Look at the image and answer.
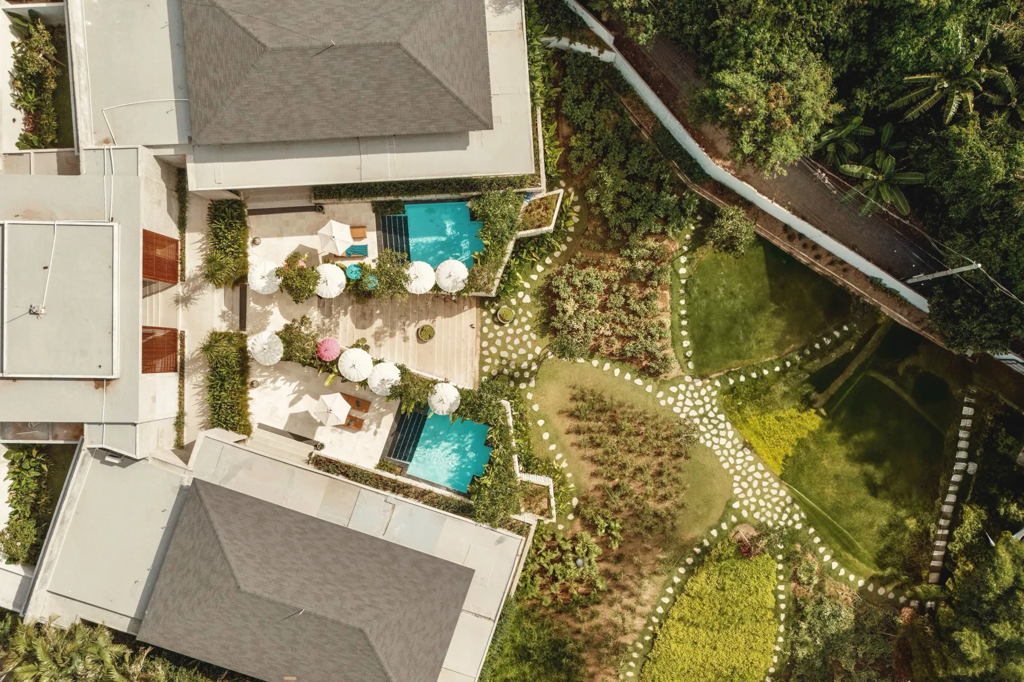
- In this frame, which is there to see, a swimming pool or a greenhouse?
swimming pool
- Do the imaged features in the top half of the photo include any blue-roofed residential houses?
No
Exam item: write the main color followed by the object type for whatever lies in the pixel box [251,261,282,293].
white umbrella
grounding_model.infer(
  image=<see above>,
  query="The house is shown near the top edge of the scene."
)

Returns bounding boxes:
[68,0,534,199]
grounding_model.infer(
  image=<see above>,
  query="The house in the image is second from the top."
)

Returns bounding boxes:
[0,143,181,464]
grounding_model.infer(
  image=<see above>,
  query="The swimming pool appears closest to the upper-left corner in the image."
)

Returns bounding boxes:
[375,198,485,273]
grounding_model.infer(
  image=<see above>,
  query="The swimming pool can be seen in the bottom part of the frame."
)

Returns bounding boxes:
[380,401,496,500]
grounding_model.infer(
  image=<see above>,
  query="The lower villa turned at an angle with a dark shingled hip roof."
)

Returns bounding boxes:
[23,430,525,682]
